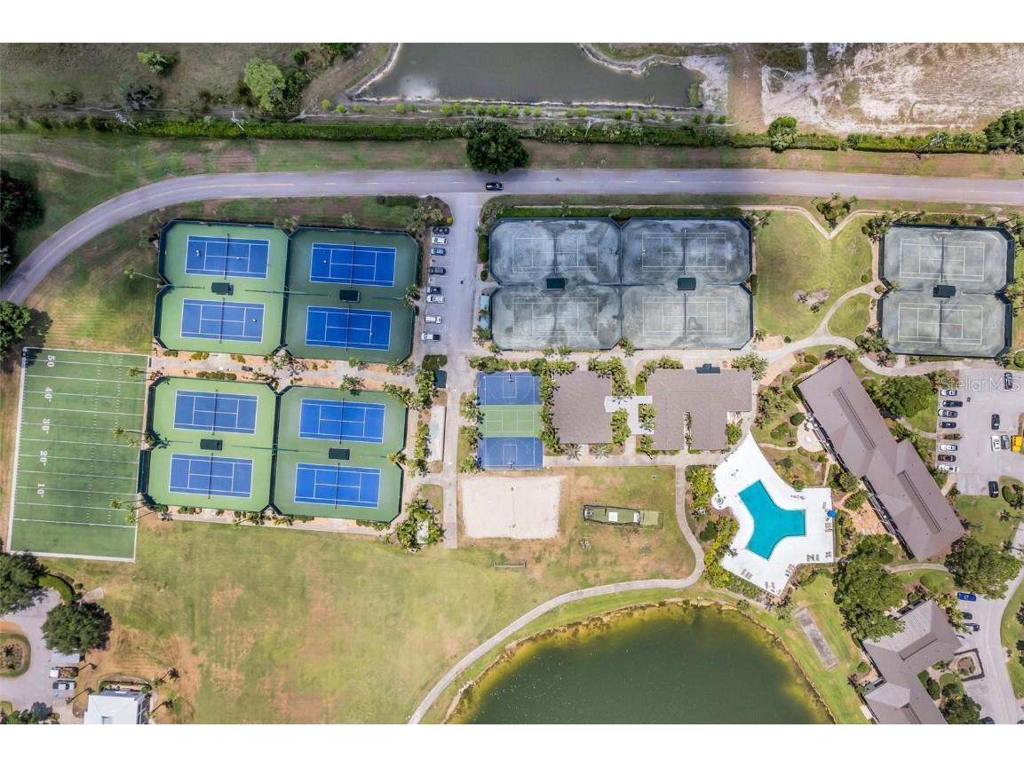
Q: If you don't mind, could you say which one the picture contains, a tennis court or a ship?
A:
tennis court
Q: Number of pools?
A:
1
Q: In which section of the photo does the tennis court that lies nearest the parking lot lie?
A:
right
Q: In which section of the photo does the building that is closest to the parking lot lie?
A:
right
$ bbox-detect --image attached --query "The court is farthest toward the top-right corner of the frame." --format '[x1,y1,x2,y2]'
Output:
[886,225,1005,295]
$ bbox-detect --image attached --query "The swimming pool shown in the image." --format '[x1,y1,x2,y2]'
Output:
[712,432,832,596]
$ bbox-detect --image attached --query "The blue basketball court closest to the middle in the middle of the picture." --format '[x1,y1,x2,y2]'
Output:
[477,372,543,405]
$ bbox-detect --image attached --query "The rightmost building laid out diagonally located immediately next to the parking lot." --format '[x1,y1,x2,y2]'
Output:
[797,357,966,563]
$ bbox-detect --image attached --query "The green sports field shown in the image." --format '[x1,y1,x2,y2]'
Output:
[5,347,150,566]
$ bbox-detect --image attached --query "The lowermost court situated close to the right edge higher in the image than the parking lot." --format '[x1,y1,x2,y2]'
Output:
[884,289,1003,357]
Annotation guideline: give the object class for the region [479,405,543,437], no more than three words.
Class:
sports court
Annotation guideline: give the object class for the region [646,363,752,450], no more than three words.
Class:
building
